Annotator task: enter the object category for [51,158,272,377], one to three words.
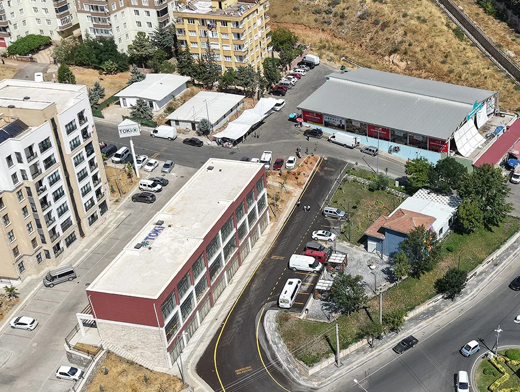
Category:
building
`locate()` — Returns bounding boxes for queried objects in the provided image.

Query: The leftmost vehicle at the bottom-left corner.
[8,317,40,332]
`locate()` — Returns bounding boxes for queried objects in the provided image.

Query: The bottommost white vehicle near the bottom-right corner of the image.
[455,368,471,392]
